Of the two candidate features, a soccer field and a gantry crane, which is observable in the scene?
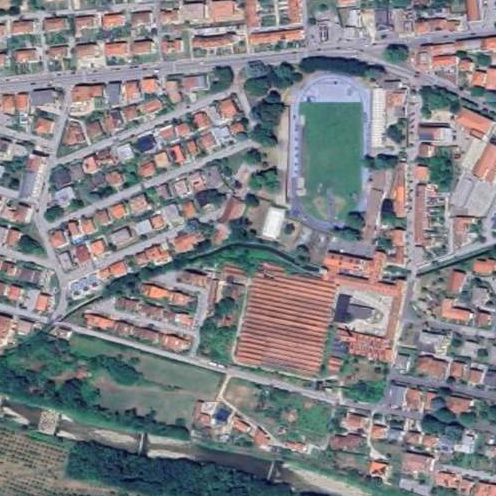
soccer field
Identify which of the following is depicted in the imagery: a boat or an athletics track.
athletics track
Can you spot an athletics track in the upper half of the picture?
Yes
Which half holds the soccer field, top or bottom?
top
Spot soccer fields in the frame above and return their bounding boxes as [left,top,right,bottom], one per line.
[298,102,360,221]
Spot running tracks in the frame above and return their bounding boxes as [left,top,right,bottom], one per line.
[286,70,371,231]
